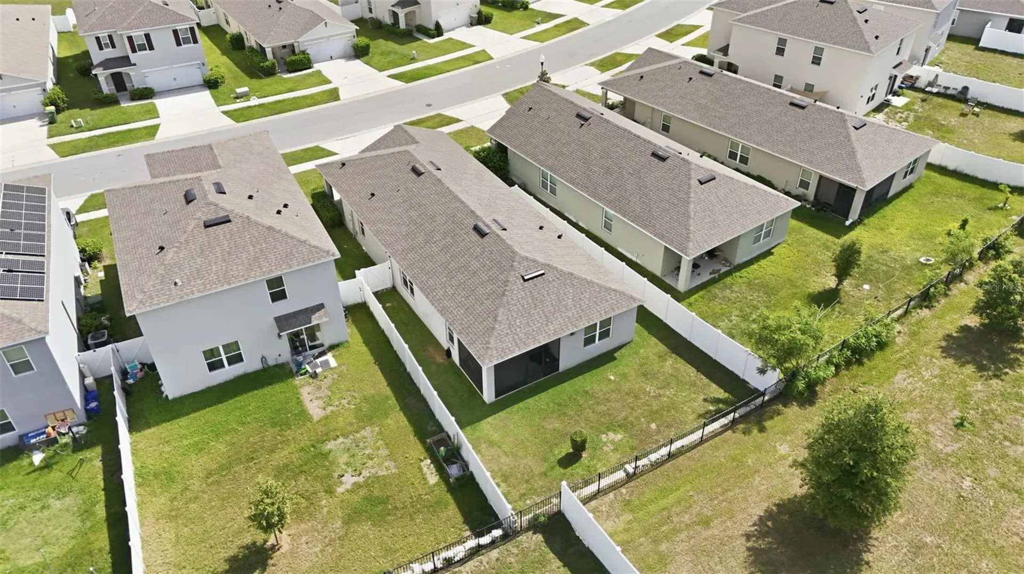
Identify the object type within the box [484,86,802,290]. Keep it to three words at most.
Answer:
house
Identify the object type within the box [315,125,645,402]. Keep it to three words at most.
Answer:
house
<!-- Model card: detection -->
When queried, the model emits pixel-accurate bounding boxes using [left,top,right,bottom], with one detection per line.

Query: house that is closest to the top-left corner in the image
[0,3,57,118]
